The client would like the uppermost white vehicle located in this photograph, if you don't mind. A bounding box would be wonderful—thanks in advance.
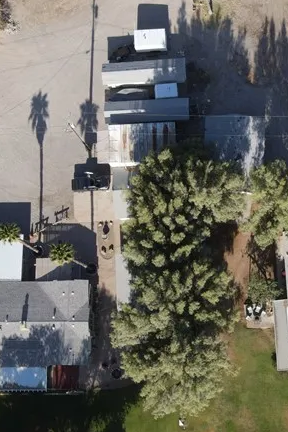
[131,28,169,60]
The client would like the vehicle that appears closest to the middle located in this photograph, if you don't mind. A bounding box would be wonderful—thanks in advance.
[73,177,112,192]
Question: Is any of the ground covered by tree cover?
Yes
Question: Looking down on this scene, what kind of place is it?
residential area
